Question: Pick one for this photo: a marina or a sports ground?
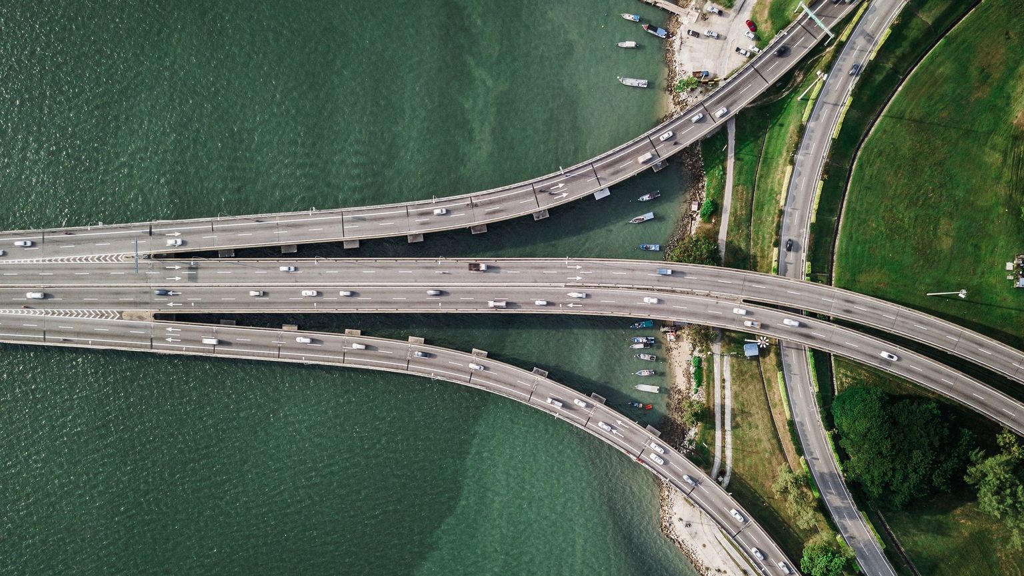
marina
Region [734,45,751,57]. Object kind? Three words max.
vehicle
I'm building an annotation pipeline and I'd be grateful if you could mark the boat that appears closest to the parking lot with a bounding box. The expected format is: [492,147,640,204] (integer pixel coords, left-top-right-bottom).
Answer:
[643,24,668,37]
